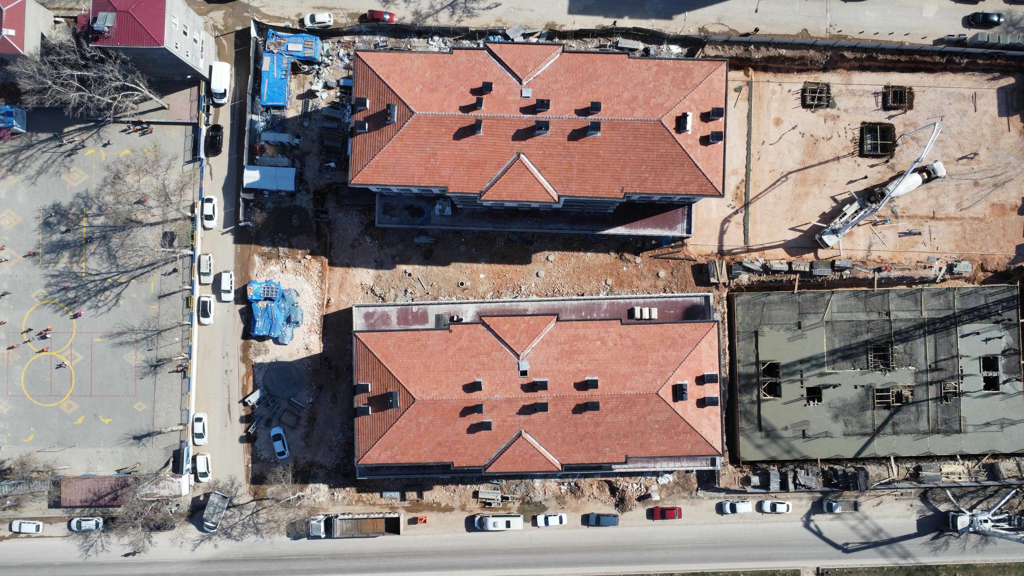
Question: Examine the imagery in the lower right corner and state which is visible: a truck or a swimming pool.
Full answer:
It is a truck that can be seen in the lower right corner.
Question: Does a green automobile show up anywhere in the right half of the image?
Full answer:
No, I can find no green automobile in the right half of the image.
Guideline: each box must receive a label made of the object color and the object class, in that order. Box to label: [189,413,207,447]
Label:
white car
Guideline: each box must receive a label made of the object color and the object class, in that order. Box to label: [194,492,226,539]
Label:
gray truck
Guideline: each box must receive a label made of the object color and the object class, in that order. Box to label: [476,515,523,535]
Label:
white vehicle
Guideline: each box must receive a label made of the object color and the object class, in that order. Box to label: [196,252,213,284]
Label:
white car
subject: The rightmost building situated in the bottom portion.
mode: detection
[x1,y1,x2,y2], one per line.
[352,293,723,479]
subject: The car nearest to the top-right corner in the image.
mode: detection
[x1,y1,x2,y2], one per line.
[971,8,1008,27]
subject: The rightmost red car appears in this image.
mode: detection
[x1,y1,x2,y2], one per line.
[653,507,684,523]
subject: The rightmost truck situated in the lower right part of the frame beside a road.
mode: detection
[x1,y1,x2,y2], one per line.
[940,486,1024,543]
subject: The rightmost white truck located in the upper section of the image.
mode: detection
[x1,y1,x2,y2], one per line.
[882,156,957,199]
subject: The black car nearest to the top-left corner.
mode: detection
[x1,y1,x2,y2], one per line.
[204,123,222,155]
